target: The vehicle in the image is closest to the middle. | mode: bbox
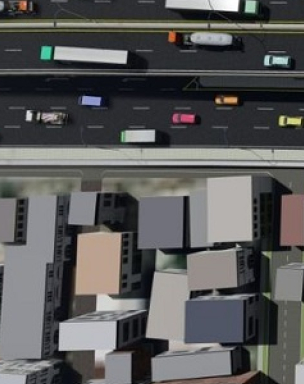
[121,129,162,144]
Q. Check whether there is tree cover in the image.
No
